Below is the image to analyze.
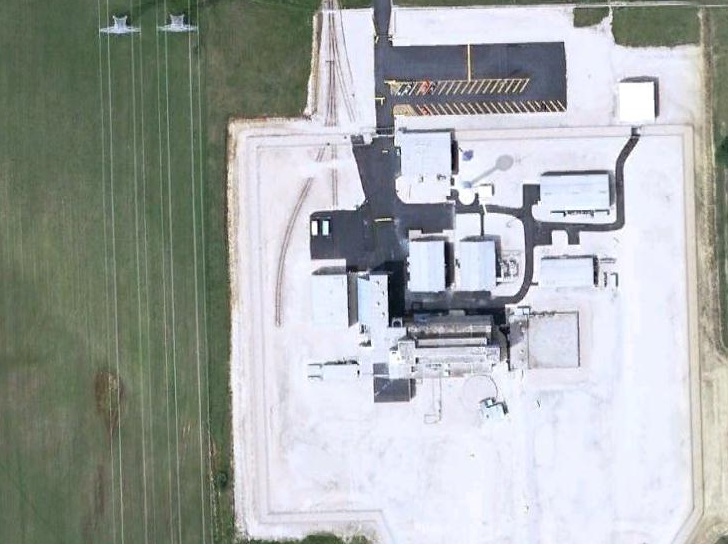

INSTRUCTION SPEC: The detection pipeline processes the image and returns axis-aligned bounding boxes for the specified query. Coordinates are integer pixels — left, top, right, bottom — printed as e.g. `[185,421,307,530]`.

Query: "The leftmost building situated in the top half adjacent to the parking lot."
[400,132,452,197]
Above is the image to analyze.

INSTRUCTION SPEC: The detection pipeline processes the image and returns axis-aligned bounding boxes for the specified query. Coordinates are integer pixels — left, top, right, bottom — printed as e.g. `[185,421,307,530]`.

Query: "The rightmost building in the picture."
[619,80,655,122]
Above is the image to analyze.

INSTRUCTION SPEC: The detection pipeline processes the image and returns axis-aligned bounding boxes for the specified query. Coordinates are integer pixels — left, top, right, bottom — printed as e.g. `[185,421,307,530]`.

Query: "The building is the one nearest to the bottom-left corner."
[322,360,359,379]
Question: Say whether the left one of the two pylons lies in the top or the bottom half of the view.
top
